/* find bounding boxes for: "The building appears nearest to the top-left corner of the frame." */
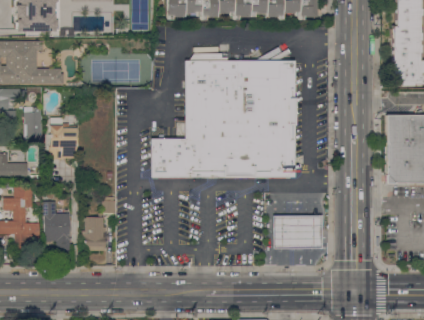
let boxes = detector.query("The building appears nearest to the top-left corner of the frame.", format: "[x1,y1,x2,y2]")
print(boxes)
[17,0,60,32]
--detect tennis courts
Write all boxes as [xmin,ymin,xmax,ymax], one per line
[130,0,150,32]
[82,55,153,86]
